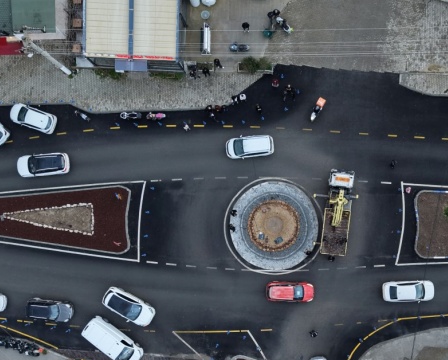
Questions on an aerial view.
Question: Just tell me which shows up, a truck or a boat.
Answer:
truck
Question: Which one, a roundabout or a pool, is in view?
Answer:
roundabout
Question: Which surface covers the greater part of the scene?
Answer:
paved ground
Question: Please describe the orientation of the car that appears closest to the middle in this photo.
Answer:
from left to right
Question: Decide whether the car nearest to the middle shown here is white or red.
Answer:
white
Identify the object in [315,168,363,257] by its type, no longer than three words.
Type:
truck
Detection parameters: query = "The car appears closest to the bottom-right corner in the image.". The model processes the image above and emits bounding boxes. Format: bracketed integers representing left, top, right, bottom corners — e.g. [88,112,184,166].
[381,279,433,304]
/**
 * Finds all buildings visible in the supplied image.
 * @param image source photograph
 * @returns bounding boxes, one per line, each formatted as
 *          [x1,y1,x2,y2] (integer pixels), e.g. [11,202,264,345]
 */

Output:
[0,0,68,44]
[81,0,182,75]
